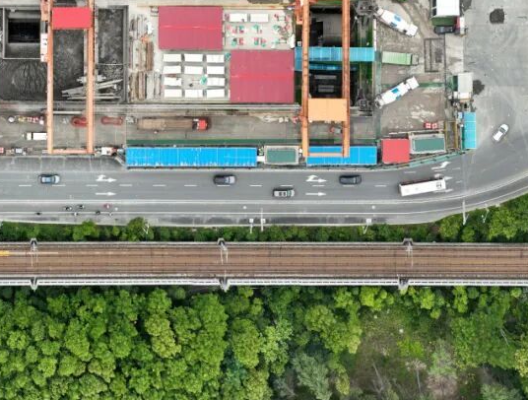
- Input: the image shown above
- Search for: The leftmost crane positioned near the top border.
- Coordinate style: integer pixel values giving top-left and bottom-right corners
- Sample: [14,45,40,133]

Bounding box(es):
[41,0,99,155]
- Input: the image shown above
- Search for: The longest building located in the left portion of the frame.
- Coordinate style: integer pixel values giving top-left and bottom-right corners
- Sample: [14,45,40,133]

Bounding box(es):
[126,148,258,167]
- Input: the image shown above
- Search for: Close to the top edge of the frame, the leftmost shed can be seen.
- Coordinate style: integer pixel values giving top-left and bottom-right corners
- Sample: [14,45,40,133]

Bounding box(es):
[157,7,223,50]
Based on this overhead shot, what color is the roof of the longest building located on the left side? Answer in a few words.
blue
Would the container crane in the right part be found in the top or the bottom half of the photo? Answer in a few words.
top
